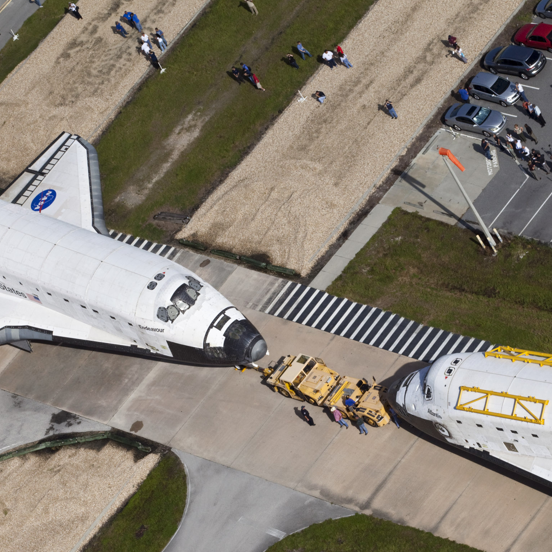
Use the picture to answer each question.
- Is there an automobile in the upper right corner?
Yes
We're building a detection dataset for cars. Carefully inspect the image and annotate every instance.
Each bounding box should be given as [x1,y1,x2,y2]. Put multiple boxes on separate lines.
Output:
[464,71,523,107]
[481,42,545,81]
[509,17,552,53]
[530,0,552,18]
[443,102,509,138]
